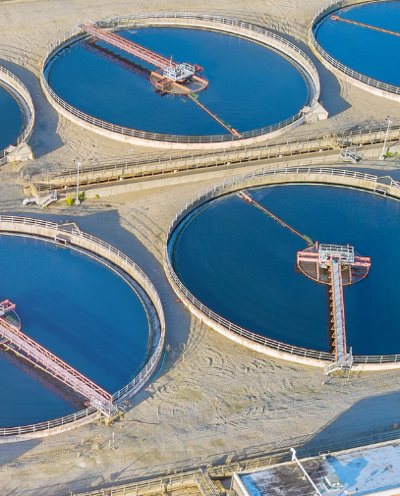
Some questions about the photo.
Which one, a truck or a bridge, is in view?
bridge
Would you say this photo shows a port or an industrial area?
industrial area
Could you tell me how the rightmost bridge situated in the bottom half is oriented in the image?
up and down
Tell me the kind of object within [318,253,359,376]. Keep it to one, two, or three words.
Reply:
bridge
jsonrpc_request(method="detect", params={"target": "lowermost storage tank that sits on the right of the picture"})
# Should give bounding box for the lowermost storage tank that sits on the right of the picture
[164,166,400,376]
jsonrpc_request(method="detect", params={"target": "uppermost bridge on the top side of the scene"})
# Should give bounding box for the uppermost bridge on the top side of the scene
[64,14,176,68]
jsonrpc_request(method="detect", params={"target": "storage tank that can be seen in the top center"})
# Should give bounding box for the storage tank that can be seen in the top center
[40,9,327,149]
